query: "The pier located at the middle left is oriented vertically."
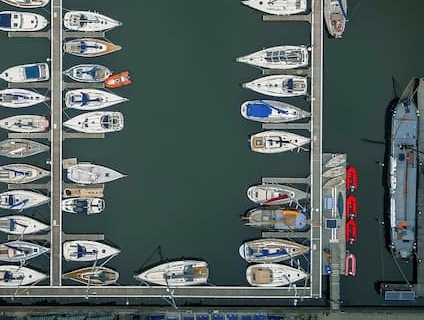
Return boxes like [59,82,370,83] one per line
[8,0,105,286]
